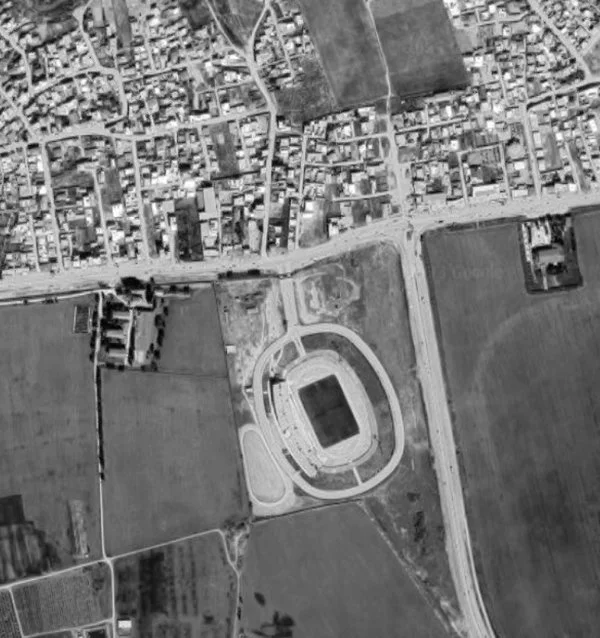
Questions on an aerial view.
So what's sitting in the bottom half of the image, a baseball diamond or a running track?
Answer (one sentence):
What appears in the bottom half of the image is a running track.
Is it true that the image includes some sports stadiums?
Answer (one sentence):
Yes, there is a sports stadium in the image.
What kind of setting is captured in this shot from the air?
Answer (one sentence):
This image shows a residential area.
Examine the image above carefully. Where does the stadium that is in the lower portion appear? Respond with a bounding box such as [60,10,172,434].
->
[274,350,379,476]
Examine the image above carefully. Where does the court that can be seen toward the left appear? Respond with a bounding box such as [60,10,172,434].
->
[73,305,90,333]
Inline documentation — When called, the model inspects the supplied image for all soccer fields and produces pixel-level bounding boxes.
[299,374,360,448]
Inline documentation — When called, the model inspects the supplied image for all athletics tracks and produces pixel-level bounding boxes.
[239,424,310,515]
